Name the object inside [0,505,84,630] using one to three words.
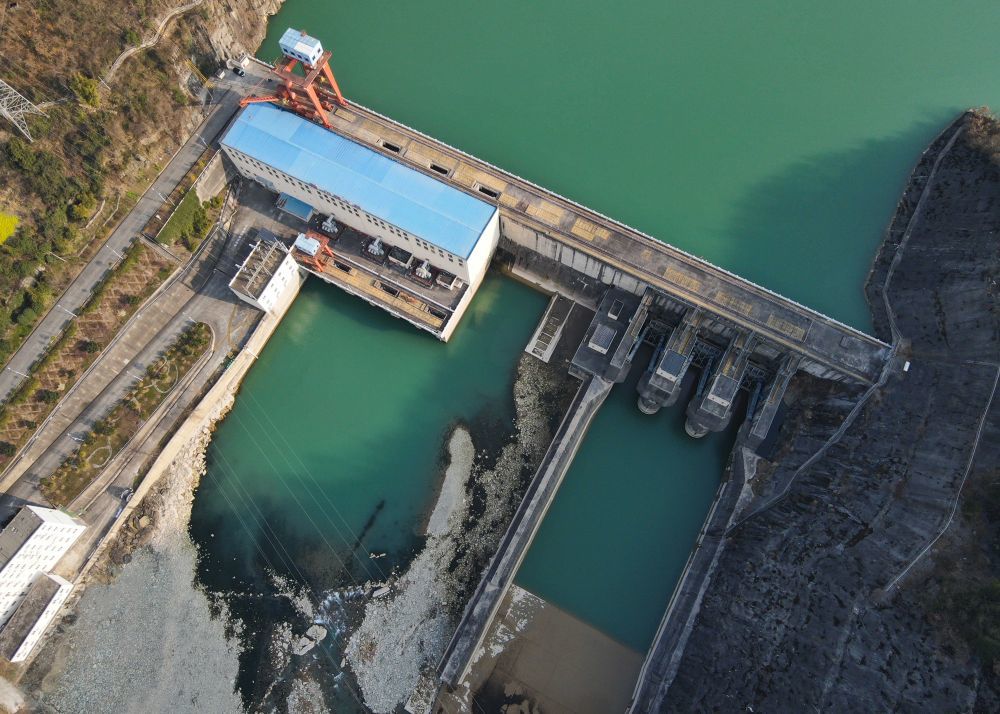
building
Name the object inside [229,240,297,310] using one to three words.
building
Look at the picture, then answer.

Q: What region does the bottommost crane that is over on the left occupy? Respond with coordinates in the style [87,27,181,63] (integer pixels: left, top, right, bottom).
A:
[291,228,336,273]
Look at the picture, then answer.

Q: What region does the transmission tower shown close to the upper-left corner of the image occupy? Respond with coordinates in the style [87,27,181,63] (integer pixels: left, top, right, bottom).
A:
[0,85,48,141]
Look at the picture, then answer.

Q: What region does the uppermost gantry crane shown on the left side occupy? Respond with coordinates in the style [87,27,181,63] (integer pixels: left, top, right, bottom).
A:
[238,26,348,128]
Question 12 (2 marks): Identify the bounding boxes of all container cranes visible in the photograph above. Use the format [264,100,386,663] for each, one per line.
[291,228,336,273]
[238,26,348,128]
